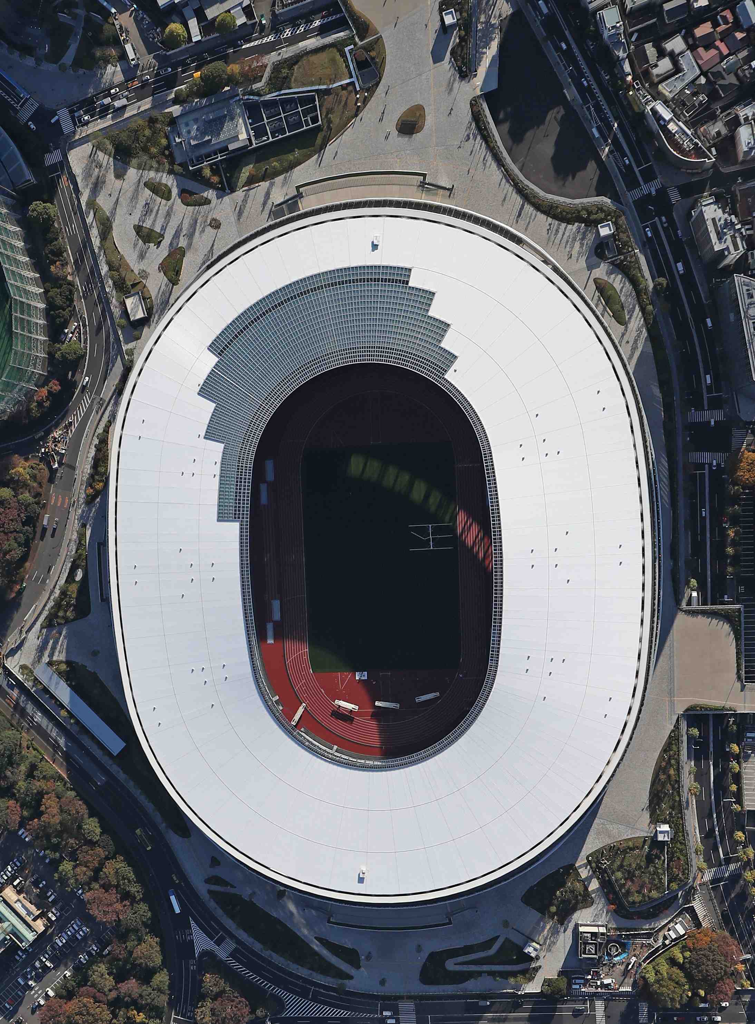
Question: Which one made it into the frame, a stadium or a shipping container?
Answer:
stadium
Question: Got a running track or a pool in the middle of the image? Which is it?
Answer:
running track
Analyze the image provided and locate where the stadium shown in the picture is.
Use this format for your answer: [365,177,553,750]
[106,198,664,909]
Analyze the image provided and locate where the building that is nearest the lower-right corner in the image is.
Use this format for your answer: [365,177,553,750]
[663,915,690,939]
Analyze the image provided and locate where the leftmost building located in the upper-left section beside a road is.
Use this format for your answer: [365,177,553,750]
[0,125,42,195]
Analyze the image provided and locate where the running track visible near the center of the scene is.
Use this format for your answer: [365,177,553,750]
[251,366,490,758]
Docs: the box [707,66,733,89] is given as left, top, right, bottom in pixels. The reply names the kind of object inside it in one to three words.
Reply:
house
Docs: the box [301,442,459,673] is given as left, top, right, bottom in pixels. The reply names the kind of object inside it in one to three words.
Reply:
sports field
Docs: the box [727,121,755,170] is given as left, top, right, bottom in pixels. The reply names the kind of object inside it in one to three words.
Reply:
building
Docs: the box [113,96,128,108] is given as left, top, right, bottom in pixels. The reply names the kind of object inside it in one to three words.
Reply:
vehicle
